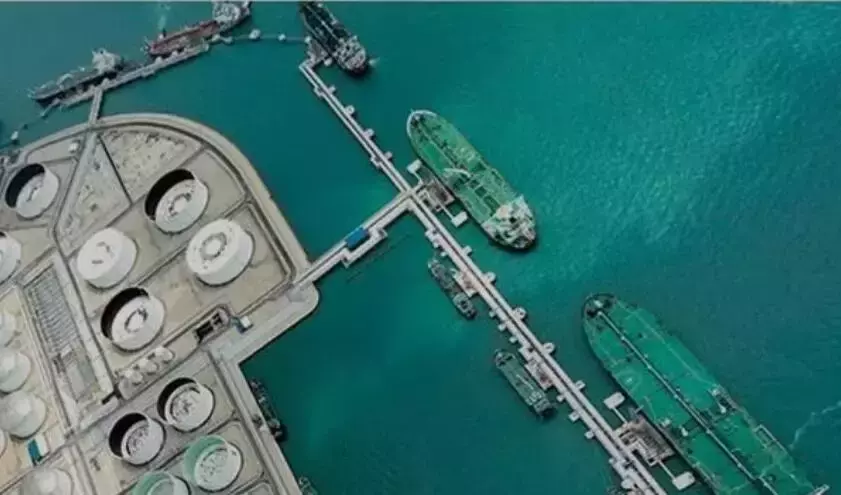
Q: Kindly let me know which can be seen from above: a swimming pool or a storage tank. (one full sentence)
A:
I can see a storage tank in this picture.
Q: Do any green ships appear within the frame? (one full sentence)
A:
Yes, I can see a green ship in this picture.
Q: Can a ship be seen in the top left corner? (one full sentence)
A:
Yes, there is a ship in the top left corner.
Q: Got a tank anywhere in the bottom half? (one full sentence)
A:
Yes, looking in the bottom half, one can make out a tank.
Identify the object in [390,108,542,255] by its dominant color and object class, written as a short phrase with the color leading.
green ship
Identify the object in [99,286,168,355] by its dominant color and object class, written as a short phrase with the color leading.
white storage tank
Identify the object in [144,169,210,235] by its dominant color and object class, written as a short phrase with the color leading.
white storage tank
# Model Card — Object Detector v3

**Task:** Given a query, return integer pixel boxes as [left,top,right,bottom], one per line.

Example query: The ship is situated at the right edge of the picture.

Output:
[551,291,828,495]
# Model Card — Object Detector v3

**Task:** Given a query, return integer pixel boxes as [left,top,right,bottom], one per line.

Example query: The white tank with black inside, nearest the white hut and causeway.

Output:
[5,163,62,220]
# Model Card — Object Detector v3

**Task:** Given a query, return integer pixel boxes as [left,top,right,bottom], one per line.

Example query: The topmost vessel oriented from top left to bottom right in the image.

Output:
[289,0,375,80]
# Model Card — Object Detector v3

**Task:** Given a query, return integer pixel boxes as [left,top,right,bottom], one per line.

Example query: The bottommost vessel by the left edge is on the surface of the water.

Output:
[23,49,131,106]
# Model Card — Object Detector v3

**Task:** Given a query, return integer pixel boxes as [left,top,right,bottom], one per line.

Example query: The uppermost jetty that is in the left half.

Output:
[59,41,209,111]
